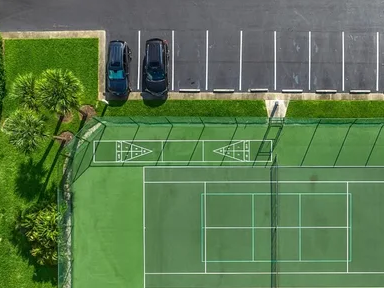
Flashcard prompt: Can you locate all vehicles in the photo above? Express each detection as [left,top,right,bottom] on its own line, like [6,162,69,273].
[141,40,169,99]
[105,42,132,96]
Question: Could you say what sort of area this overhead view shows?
sports ground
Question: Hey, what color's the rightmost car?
black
